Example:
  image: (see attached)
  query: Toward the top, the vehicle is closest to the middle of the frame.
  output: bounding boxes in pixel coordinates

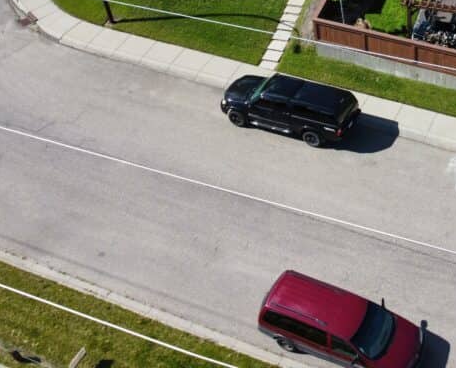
[217,69,366,147]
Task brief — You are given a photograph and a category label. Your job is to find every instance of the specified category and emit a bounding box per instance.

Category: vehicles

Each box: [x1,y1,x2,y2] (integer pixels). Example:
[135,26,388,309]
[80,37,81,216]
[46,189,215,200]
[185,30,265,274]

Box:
[217,69,366,147]
[252,267,436,368]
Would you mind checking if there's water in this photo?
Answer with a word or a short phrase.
No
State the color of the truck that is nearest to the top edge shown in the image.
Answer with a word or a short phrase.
black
